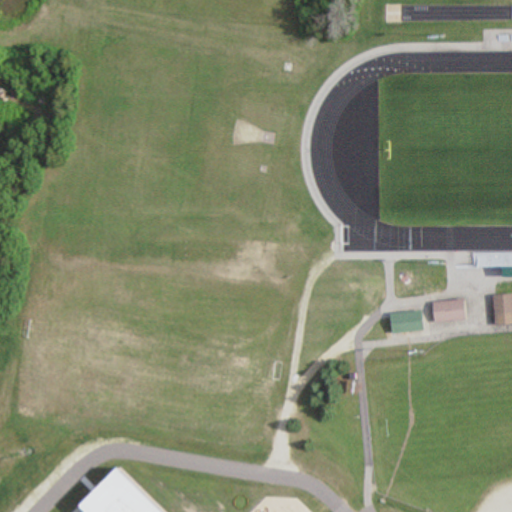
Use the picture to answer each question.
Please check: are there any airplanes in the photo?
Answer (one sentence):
No, I find no airplane anywhere in the image.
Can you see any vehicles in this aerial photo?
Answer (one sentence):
No, there appears to be no vehicle in this shot.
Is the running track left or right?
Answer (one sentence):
You can find the running track on the right side of the picture.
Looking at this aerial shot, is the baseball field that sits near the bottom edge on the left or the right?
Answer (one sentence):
The baseball field that sits near the bottom edge sits on the right side.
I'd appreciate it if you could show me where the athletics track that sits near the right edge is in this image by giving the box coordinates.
[312,50,512,251]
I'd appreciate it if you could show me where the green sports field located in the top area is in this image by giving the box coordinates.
[378,72,512,228]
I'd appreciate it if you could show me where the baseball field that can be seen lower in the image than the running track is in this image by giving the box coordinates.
[388,334,512,512]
